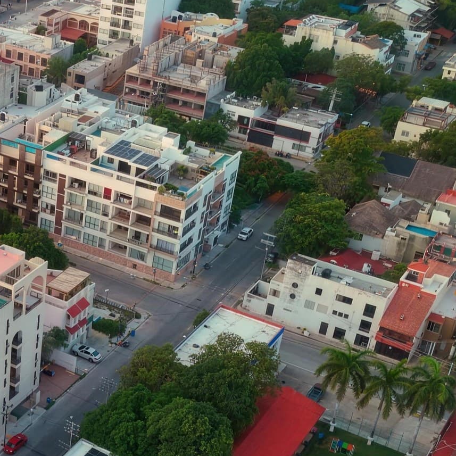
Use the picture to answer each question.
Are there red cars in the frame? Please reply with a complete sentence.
Yes, there's a red car here.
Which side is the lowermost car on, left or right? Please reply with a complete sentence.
The lowermost car appears in the left half of the scene.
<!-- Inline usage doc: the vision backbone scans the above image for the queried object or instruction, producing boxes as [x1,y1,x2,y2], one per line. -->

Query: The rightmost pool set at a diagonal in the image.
[212,155,235,171]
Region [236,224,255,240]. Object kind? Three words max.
car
